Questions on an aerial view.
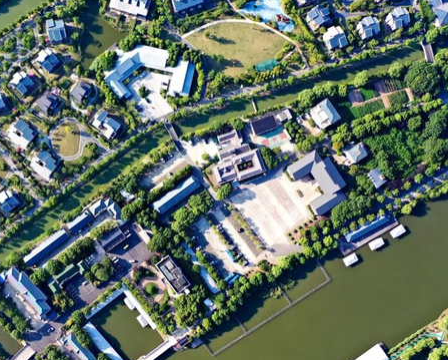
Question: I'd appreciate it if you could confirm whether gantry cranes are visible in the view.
No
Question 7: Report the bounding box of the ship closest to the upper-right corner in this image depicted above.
[274,11,293,27]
